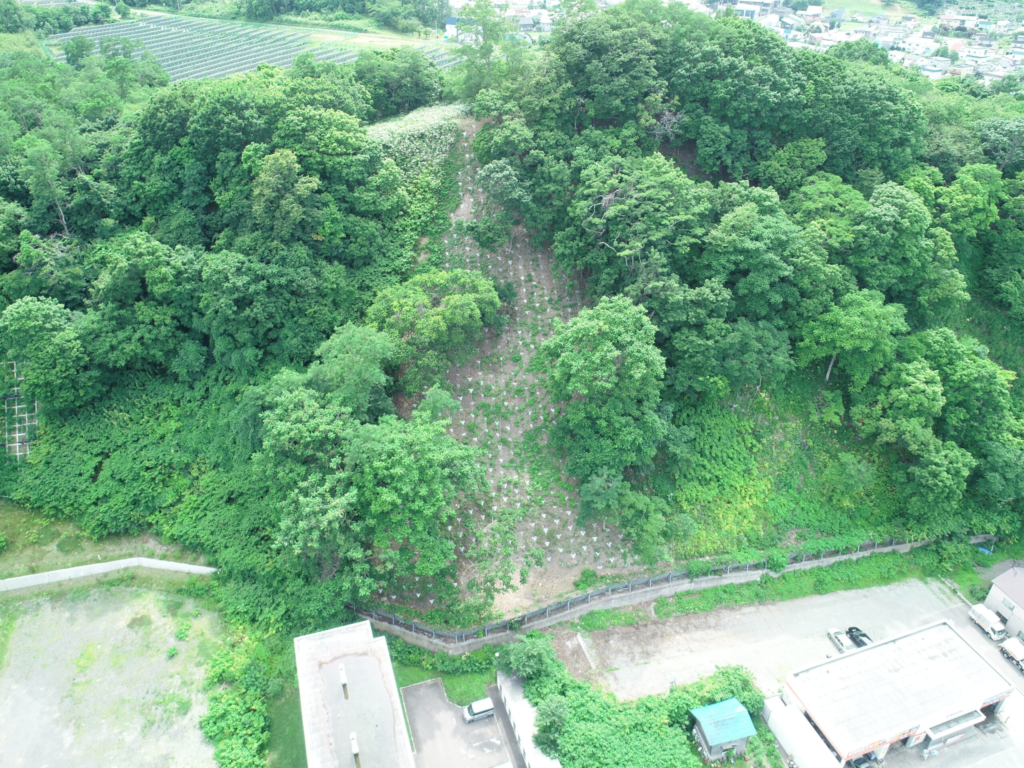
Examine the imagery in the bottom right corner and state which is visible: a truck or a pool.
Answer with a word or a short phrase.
truck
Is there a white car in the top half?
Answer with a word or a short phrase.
No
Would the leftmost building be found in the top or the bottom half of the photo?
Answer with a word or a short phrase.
bottom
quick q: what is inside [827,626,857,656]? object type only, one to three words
car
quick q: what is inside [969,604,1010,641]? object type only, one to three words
truck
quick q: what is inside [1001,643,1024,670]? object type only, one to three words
truck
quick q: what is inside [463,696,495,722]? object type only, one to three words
car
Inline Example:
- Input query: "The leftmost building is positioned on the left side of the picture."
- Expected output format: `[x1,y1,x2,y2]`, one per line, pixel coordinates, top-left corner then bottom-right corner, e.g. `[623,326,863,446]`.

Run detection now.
[294,622,417,768]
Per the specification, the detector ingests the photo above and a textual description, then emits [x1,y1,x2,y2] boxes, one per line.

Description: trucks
[1001,643,1024,670]
[969,604,1010,641]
